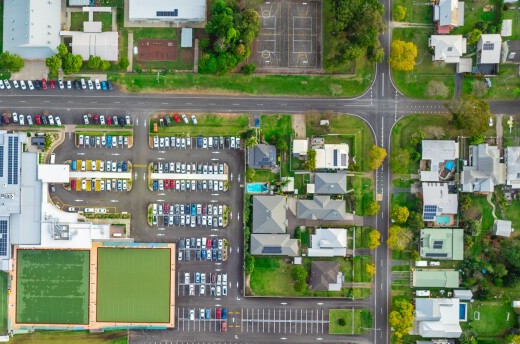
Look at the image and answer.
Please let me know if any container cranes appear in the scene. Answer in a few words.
No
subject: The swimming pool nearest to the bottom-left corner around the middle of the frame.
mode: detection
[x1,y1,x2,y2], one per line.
[246,181,270,194]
